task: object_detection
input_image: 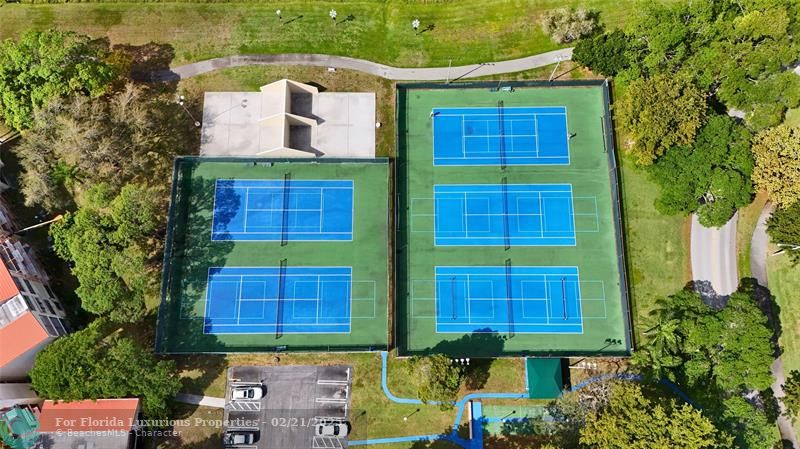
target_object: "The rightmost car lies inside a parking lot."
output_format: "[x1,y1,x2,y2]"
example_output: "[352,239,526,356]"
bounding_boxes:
[316,422,348,438]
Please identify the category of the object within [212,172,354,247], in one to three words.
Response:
tennis court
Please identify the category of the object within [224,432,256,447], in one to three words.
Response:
car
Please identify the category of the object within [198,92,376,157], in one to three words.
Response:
sports court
